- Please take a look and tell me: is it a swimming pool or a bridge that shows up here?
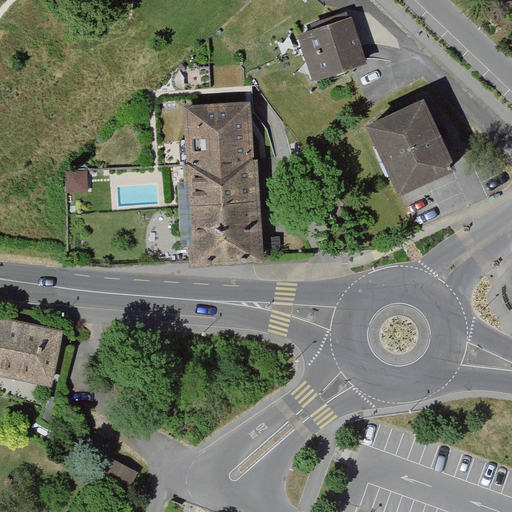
swimming pool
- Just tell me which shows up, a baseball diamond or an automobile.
automobile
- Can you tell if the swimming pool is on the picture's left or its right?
left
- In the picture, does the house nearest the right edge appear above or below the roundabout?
above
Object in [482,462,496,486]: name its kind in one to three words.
car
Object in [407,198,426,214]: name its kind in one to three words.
car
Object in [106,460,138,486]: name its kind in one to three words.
shed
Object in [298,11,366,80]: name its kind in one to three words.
house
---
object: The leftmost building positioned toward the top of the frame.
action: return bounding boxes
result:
[65,170,88,194]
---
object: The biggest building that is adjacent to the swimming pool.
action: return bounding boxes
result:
[178,102,264,268]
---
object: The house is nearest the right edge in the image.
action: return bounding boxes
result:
[366,98,456,196]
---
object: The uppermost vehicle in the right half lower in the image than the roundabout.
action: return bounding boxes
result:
[362,423,374,445]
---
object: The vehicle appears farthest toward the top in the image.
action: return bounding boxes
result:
[361,69,382,84]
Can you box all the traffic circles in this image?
[328,264,470,405]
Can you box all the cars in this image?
[361,69,382,84]
[460,454,472,473]
[38,277,56,287]
[434,446,449,472]
[416,208,439,224]
[362,423,374,445]
[486,173,510,190]
[196,306,216,316]
[482,462,496,486]
[495,466,508,486]
[407,198,426,214]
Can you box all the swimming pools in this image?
[110,170,164,210]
